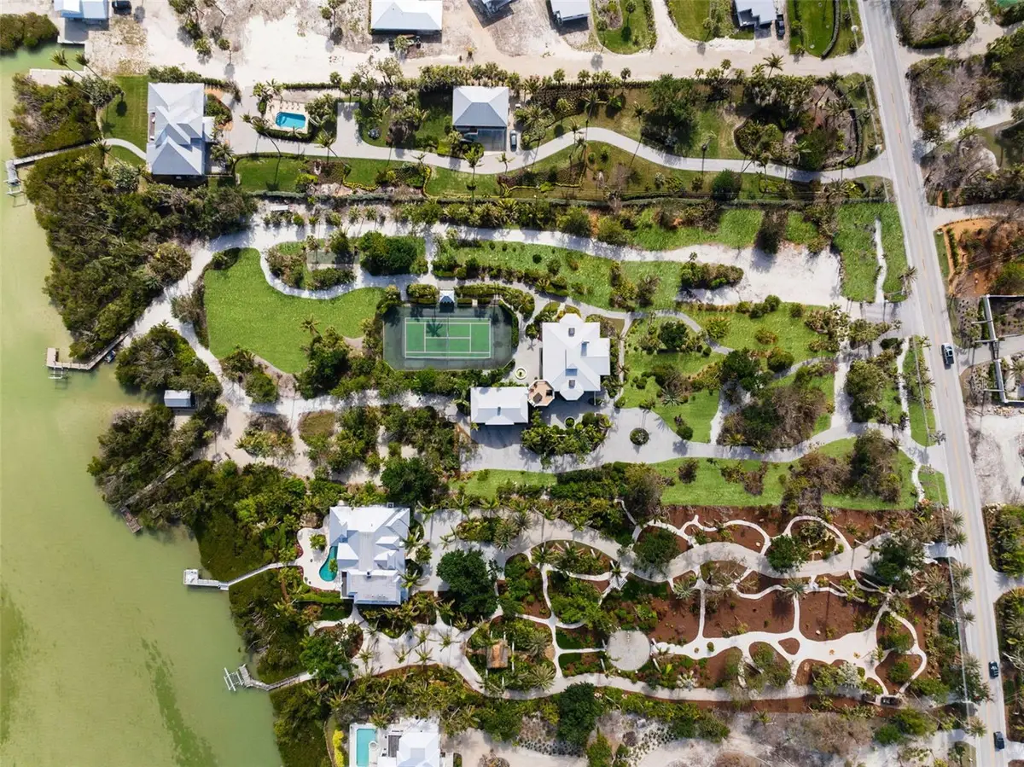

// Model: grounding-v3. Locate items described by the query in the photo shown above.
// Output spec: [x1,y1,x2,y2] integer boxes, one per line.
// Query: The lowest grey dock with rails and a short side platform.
[238,665,312,692]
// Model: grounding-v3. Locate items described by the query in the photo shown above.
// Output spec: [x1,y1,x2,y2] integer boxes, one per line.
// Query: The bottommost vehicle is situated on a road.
[995,731,1007,752]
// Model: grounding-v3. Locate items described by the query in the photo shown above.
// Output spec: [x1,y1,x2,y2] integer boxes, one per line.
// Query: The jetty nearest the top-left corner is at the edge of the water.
[4,140,97,182]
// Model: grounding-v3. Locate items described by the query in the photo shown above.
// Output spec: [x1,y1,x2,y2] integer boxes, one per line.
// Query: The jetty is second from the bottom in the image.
[182,562,276,591]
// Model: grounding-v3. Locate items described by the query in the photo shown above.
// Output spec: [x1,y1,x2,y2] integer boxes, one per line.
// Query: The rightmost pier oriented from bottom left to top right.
[118,451,199,533]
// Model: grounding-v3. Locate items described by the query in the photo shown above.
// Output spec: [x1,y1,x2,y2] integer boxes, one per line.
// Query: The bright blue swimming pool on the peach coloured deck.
[274,110,307,129]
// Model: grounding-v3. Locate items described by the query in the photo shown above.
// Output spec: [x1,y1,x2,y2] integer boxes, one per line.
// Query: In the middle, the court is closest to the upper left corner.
[381,304,518,370]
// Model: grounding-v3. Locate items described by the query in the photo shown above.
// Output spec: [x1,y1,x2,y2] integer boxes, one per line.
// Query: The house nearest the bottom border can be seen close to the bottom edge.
[378,729,442,767]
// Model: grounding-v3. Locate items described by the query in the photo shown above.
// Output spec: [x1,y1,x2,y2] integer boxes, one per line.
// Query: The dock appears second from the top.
[45,333,129,371]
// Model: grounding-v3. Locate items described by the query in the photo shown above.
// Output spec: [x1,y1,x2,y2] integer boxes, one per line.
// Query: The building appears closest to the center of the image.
[470,387,529,425]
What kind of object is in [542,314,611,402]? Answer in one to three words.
house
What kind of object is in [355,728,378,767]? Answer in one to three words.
swimming pool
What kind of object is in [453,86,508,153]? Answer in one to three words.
house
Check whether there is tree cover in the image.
Yes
